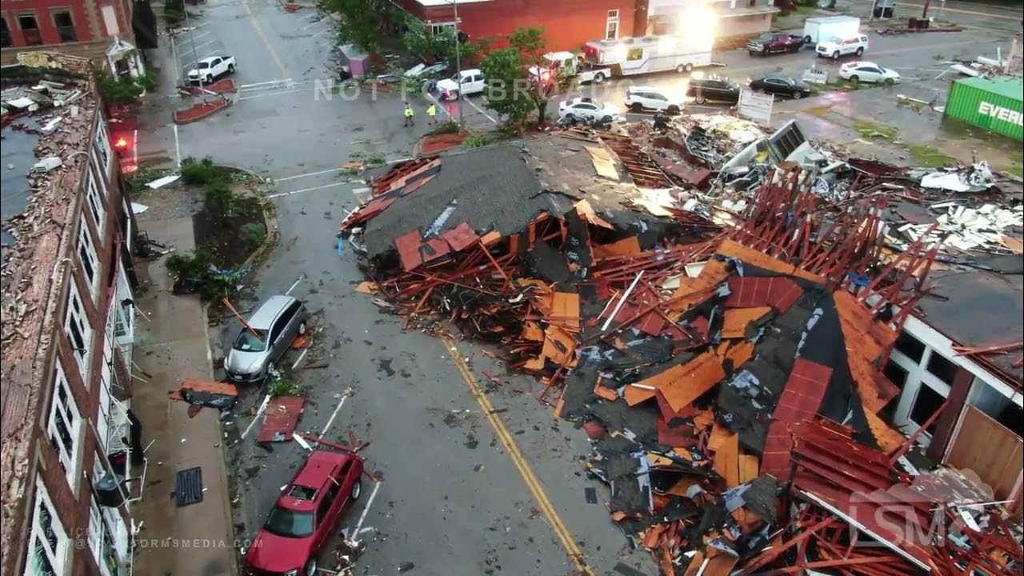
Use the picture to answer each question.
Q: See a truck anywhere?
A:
Yes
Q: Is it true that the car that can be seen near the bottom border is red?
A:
Yes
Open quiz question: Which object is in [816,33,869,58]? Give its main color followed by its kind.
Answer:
white car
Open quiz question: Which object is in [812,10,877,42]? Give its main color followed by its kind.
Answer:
white trailer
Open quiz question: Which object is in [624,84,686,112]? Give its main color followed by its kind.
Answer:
white car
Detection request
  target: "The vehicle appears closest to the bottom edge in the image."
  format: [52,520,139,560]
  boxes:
[241,435,367,576]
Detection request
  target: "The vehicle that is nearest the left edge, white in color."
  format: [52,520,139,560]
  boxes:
[182,54,236,83]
